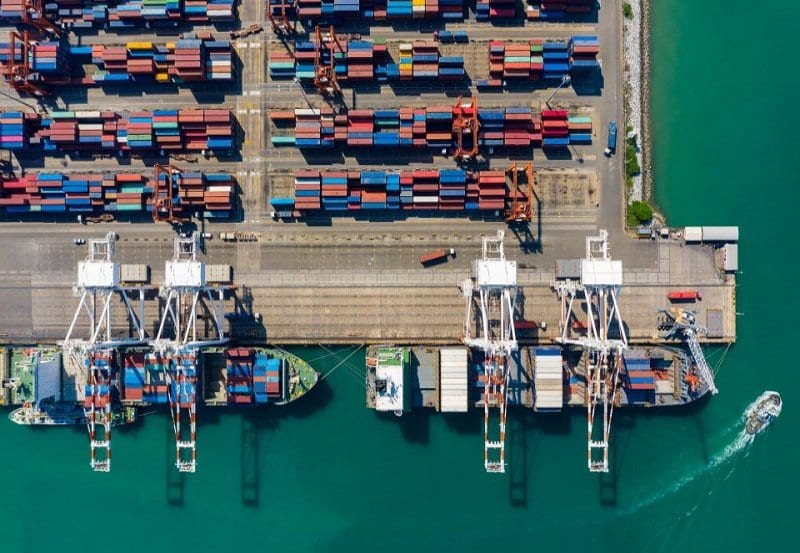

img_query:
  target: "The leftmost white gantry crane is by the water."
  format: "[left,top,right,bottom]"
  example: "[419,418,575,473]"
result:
[60,232,166,472]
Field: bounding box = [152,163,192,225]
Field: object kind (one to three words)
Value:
crane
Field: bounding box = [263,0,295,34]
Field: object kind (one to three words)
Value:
crane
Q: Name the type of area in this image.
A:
port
